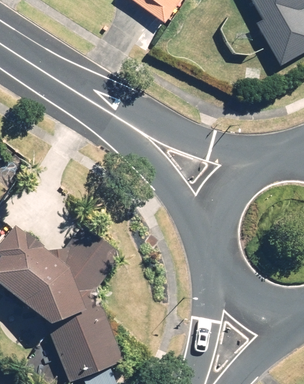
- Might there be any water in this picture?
No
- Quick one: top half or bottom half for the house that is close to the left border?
bottom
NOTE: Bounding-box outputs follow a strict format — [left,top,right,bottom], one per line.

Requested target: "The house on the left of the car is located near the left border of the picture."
[0,226,122,382]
